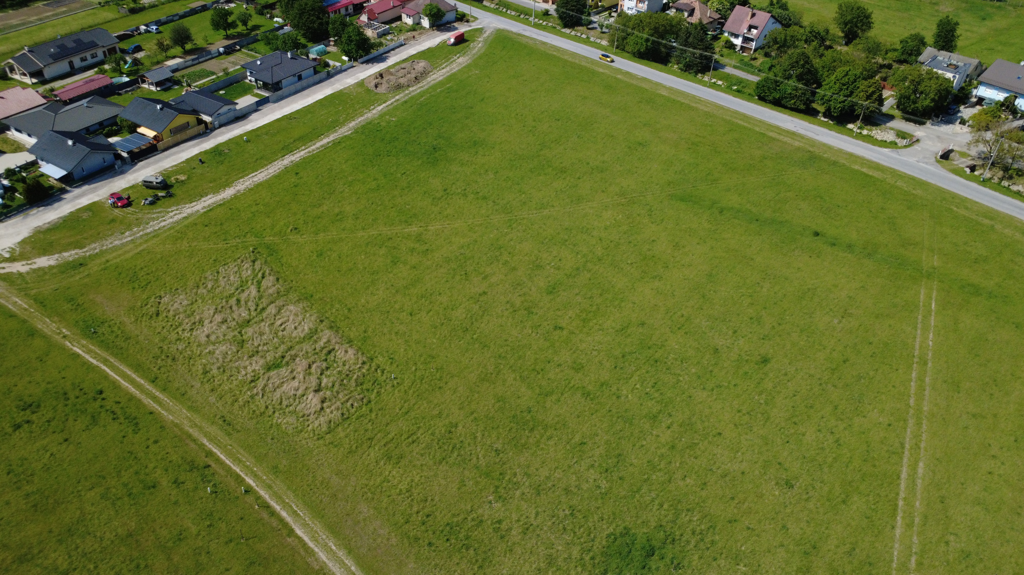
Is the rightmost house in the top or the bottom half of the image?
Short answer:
top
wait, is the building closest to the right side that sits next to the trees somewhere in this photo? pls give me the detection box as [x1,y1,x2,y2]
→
[973,60,1024,113]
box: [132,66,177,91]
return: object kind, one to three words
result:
building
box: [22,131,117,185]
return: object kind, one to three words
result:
house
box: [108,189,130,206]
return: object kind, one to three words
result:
car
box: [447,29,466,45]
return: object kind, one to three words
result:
vehicle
